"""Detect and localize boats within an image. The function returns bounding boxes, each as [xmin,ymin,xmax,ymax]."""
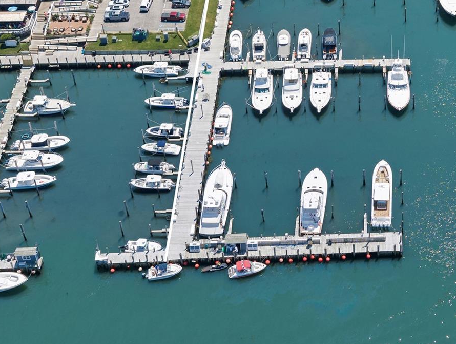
[142,264,181,284]
[146,89,189,110]
[299,169,332,234]
[193,157,233,237]
[201,263,229,274]
[229,260,266,281]
[141,141,181,157]
[120,228,162,256]
[230,30,248,62]
[251,28,272,62]
[367,159,402,228]
[386,48,411,111]
[212,105,233,150]
[146,121,185,141]
[24,95,79,118]
[131,166,177,193]
[15,127,70,156]
[2,147,64,175]
[0,164,56,195]
[309,68,332,112]
[277,65,302,112]
[0,275,27,294]
[273,28,291,61]
[247,54,274,113]
[317,28,337,60]
[135,155,177,178]
[134,63,182,87]
[295,28,318,60]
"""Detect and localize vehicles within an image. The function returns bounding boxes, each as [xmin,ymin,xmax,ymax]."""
[170,0,192,8]
[137,0,155,11]
[161,11,186,23]
[103,10,130,22]
[105,3,126,13]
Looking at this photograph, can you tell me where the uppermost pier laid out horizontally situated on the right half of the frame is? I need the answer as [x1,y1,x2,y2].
[221,46,410,92]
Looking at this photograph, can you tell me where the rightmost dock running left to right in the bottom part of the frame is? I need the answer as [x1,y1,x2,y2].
[96,209,403,268]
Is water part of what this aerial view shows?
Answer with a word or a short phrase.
Yes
